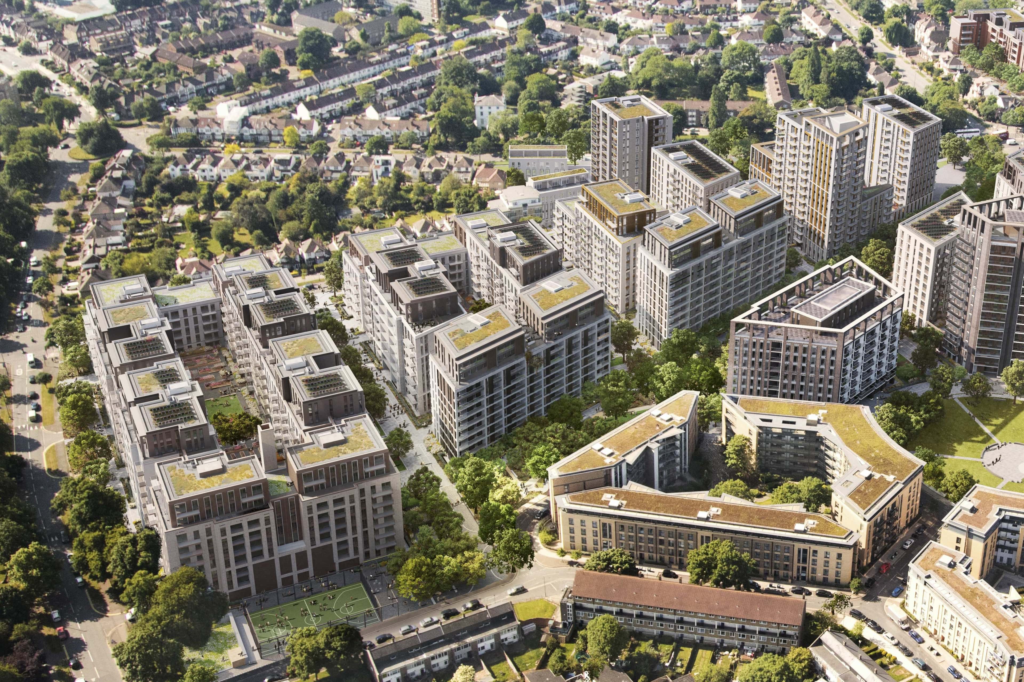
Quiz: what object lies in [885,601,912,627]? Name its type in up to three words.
truck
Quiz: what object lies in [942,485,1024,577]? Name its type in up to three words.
building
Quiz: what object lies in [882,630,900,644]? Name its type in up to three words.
car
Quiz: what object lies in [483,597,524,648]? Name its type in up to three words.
house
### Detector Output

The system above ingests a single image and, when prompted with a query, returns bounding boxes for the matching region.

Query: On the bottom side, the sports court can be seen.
[242,581,382,659]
